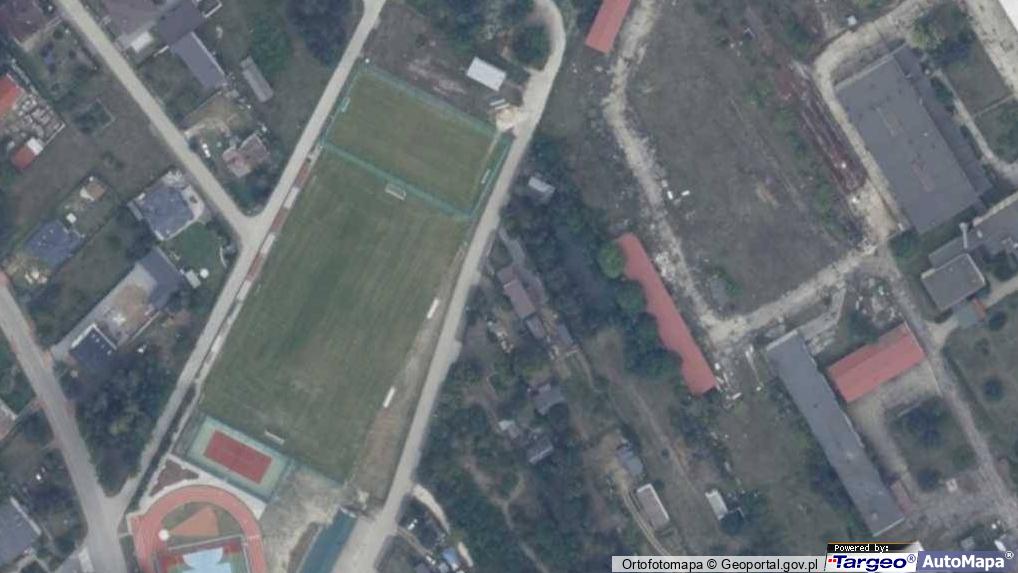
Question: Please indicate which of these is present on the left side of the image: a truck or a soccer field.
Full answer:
What appears on the left side of the image is a soccer field.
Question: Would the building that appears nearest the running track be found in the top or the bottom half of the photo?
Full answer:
It is in the bottom half that the building that appears nearest the running track appears.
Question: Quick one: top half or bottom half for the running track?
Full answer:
You can find the running track in the bottom half.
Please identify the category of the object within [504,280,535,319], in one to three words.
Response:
house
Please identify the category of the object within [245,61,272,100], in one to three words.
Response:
building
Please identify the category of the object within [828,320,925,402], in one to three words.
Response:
barn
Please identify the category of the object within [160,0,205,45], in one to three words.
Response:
house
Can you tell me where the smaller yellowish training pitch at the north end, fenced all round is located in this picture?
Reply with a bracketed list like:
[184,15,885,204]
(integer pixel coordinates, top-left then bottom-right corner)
[326,68,503,214]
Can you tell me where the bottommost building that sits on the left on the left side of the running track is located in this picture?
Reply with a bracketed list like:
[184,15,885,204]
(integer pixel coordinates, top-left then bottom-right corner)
[0,497,44,566]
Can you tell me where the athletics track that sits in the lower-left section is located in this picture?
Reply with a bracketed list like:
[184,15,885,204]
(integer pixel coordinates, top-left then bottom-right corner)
[130,488,266,573]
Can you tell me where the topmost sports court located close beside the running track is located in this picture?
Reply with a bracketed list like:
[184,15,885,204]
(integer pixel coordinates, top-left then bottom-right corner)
[188,418,287,500]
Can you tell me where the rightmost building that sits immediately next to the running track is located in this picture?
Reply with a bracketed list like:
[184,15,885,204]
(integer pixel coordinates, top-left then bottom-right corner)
[299,505,358,573]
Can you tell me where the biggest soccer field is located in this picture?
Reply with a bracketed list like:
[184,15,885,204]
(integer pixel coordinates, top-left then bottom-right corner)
[202,150,471,486]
